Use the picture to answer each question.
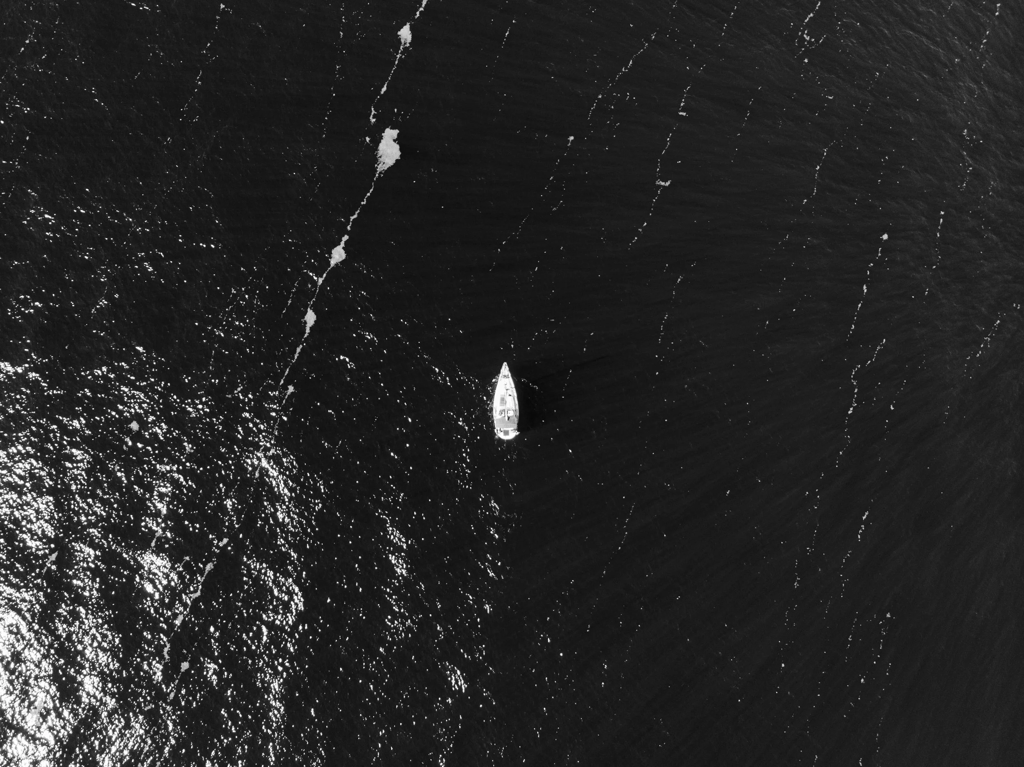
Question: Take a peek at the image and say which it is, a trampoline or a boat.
boat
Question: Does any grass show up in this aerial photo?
No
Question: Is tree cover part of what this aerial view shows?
No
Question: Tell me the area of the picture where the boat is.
center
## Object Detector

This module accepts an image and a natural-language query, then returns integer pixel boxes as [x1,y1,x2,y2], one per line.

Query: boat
[493,362,519,440]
